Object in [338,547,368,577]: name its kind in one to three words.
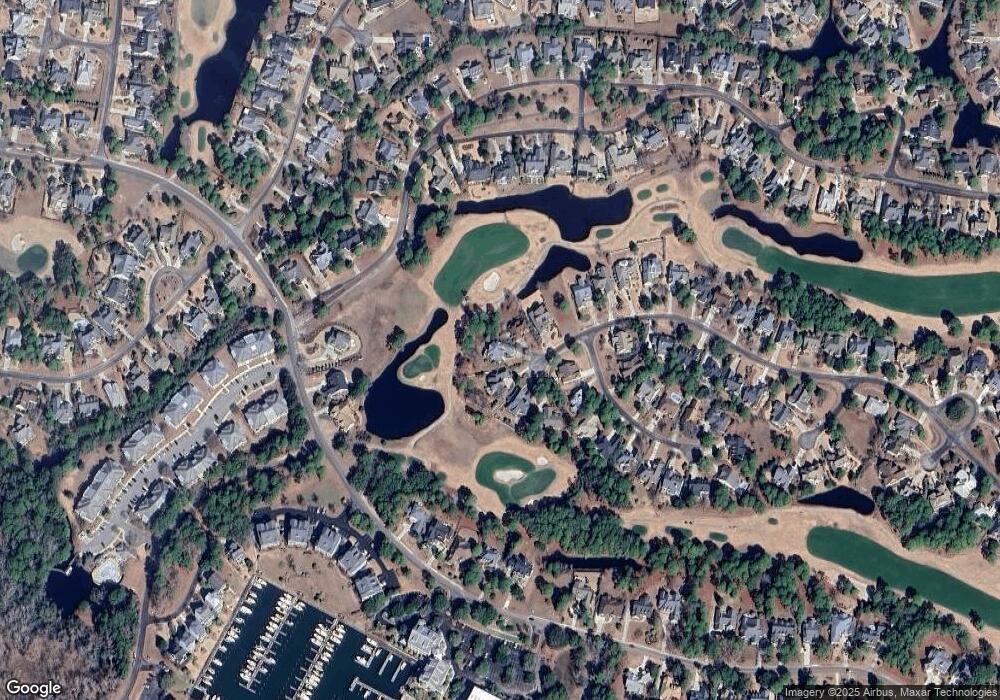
building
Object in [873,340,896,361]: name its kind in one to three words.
house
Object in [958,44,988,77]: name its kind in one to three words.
house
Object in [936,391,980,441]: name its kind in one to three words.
roundabout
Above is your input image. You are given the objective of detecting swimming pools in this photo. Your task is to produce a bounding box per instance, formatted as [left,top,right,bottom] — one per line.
[95,558,119,581]
[669,391,684,404]
[423,33,432,49]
